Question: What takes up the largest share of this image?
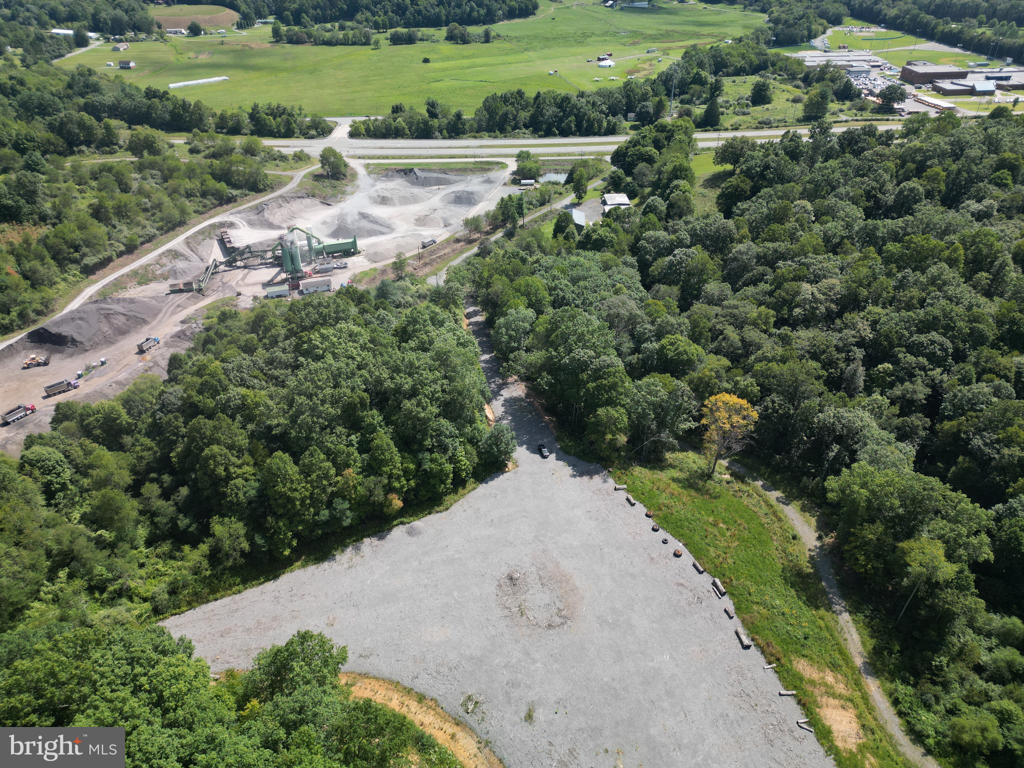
trees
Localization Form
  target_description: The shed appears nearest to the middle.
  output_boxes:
[534,209,587,236]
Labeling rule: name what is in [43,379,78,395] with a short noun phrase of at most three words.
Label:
vehicle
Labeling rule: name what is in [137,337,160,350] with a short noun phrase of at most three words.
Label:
vehicle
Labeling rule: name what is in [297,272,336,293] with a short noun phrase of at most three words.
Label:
building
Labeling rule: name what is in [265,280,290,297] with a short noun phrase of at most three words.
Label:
shed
